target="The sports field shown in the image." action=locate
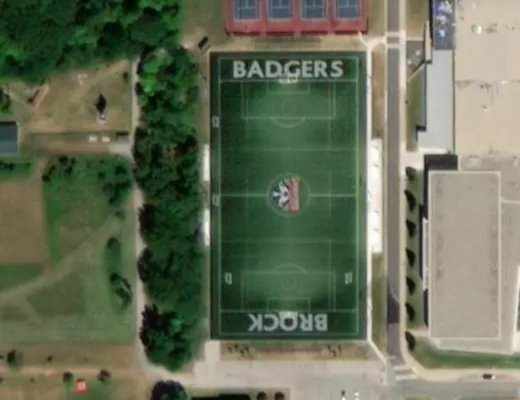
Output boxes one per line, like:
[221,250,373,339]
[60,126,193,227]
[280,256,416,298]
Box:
[210,52,367,340]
